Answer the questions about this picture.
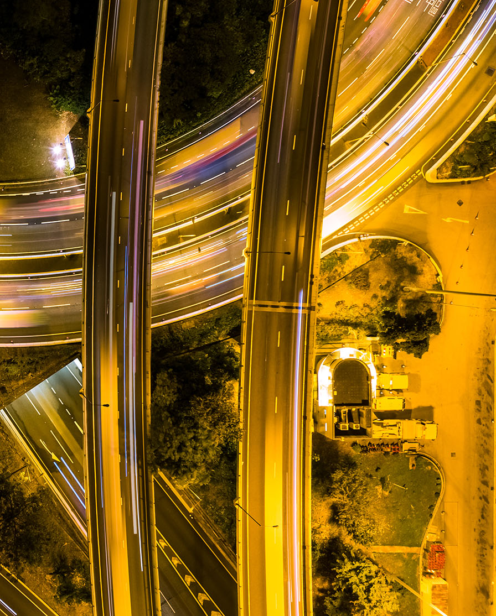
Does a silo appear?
No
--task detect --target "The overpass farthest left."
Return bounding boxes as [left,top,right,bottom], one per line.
[81,0,170,616]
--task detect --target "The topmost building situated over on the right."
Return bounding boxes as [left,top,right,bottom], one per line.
[317,346,375,440]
